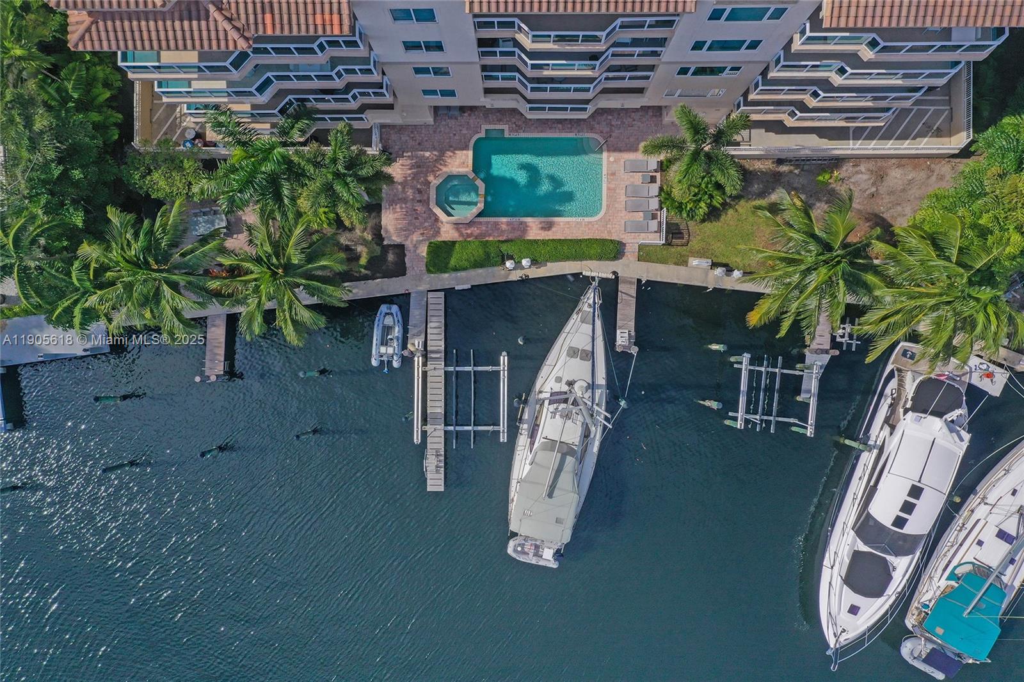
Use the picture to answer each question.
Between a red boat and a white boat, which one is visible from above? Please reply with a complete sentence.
It is a white boat that can be seen here.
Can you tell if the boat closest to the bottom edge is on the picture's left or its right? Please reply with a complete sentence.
The boat closest to the bottom edge sits on the right side.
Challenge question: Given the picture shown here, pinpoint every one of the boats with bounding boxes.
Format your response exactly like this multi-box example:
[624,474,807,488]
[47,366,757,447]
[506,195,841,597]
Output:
[372,303,403,372]
[898,634,963,680]
[814,343,989,672]
[899,434,1024,670]
[507,536,563,567]
[508,273,613,555]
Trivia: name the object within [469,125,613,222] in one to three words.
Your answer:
swimming pool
